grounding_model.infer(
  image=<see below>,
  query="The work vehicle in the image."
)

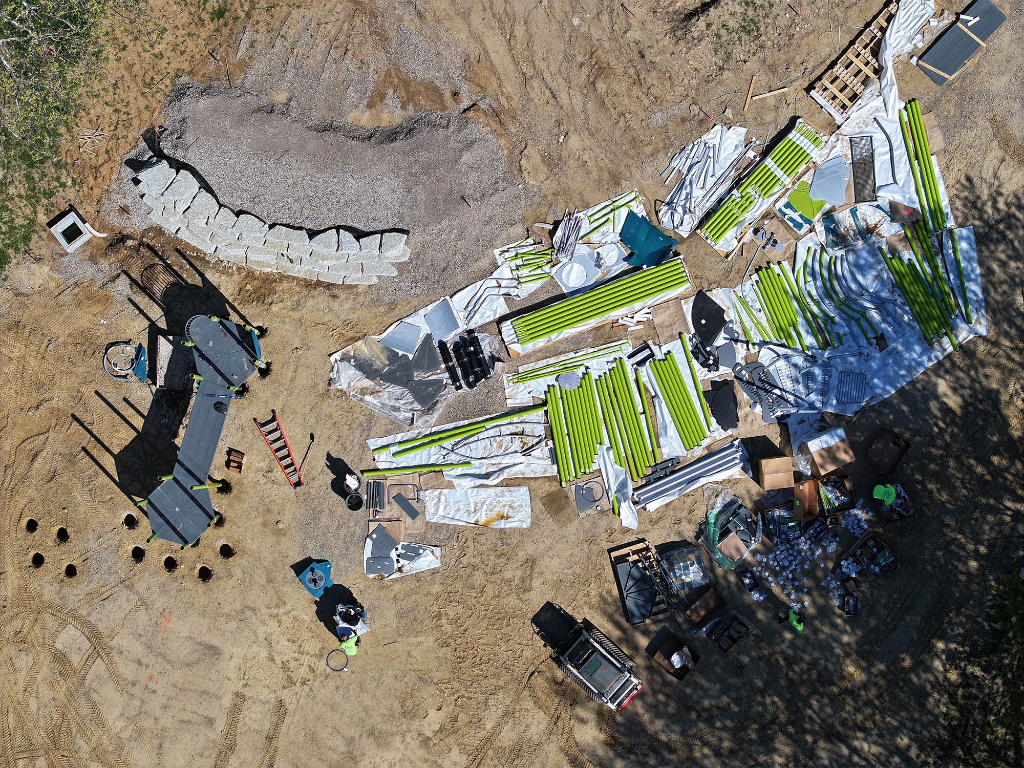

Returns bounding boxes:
[525,599,646,715]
